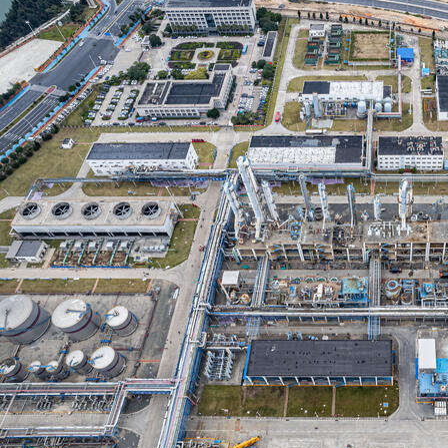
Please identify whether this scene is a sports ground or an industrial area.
industrial area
